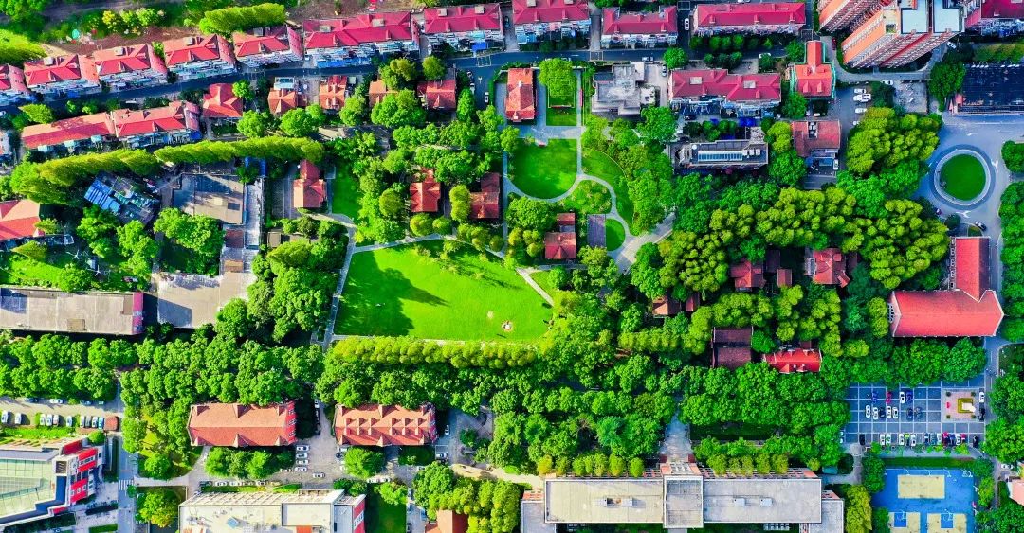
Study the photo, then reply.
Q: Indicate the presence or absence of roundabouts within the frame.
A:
Yes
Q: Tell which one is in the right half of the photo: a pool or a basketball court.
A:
basketball court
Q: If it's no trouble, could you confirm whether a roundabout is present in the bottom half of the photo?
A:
No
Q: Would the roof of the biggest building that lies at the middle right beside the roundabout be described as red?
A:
Yes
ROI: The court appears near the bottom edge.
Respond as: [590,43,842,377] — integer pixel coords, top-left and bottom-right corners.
[873,468,977,533]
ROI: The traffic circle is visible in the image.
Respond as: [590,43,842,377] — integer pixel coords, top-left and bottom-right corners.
[929,142,997,211]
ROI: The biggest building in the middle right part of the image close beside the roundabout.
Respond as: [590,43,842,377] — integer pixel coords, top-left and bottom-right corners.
[887,236,1004,338]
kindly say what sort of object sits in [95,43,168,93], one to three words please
building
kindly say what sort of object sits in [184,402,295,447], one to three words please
house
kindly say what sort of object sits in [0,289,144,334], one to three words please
building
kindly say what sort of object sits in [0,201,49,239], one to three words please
house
